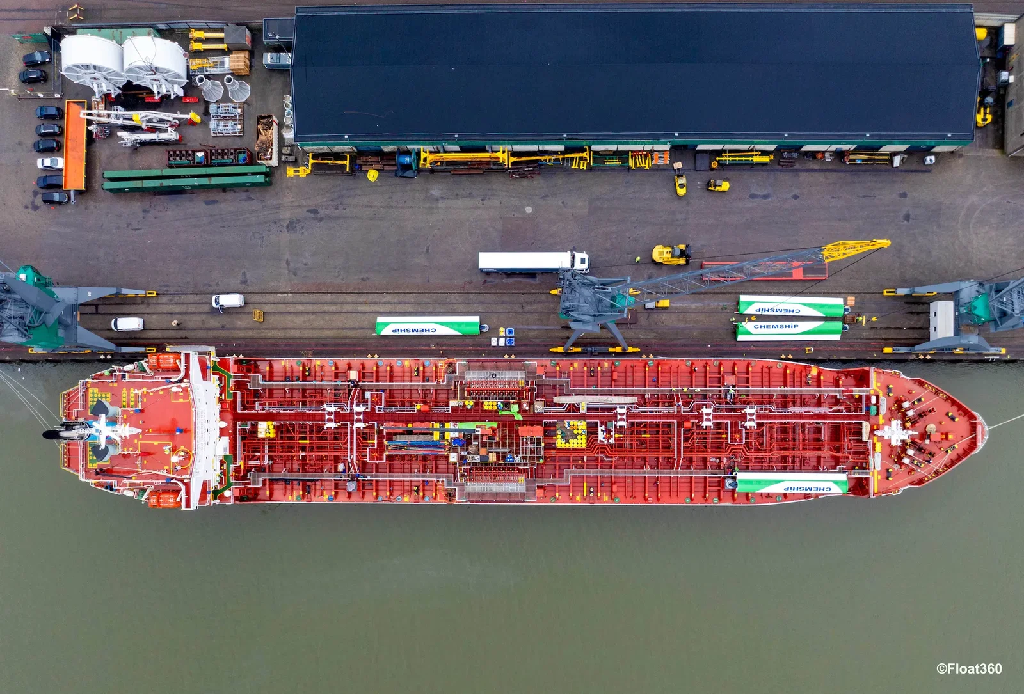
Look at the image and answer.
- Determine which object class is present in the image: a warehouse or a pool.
warehouse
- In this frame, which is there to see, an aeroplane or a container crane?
container crane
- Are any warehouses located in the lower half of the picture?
No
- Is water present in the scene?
Yes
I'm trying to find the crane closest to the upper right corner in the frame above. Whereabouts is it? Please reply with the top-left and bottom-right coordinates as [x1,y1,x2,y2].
[888,273,1024,353]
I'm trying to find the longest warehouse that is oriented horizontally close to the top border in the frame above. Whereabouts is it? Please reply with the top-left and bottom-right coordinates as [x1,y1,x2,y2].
[291,5,980,158]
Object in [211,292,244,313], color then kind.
white vehicle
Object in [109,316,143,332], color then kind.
white vehicle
